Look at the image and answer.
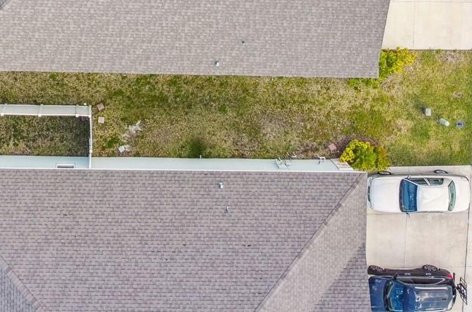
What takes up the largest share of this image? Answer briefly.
buildings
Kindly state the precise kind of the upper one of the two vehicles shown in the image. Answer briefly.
car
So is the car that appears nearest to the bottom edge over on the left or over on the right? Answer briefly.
right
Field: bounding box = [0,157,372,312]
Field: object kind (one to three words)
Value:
house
